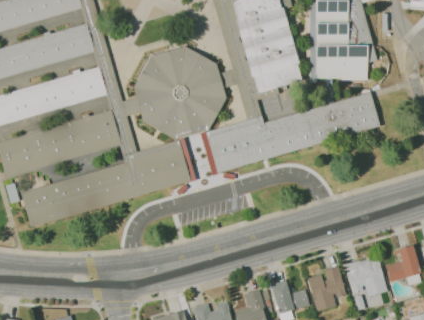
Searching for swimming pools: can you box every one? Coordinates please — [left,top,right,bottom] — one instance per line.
[392,280,415,298]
